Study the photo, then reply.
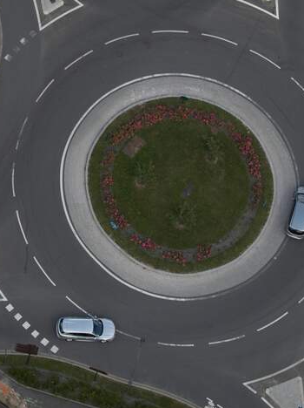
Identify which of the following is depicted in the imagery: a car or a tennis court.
car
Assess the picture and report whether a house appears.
No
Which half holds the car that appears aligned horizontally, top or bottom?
bottom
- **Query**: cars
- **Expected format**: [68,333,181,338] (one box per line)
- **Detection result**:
[55,316,115,345]
[286,187,304,242]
